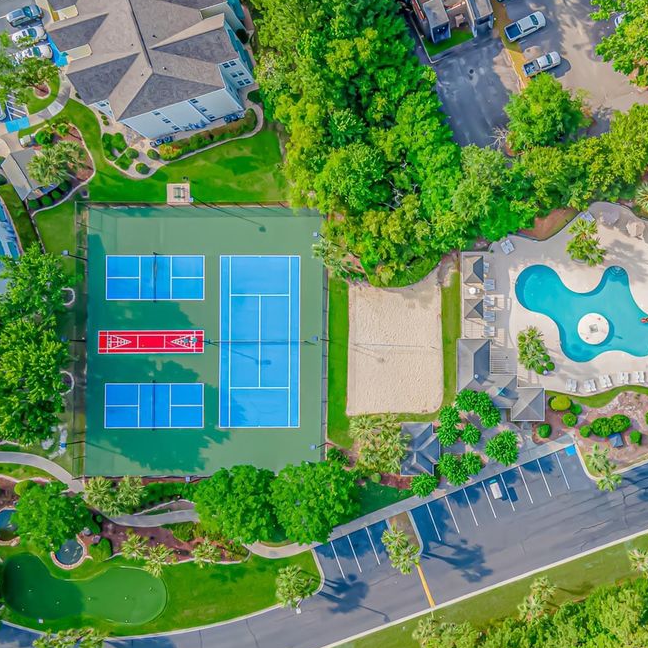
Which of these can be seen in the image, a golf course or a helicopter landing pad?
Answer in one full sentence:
It is a golf course that can be seen here.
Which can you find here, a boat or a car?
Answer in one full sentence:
It is a car that can be seen here.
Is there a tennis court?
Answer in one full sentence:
Yes, the frame does contain a tennis court.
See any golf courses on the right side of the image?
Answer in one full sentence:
No, I can find no golf course on the right side of the image.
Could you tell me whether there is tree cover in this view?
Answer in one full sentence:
Yes, tree cover shows up in the scene.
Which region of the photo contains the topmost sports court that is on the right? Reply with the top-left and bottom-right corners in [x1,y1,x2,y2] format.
[347,261,455,416]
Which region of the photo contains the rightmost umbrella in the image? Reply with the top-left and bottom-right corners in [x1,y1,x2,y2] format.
[626,219,645,237]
